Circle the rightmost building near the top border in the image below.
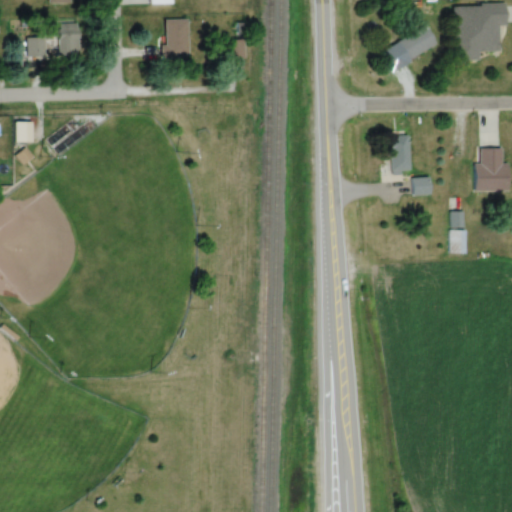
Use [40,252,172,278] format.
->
[451,2,507,64]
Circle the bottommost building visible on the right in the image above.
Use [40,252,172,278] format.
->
[446,230,468,254]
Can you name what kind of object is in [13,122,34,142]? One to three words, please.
building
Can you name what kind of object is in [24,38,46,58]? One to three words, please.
house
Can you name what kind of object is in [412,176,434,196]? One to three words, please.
building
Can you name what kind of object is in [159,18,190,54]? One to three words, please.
house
